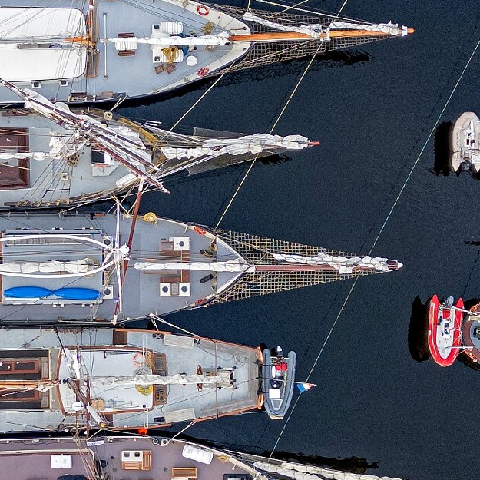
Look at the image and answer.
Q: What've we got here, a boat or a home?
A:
boat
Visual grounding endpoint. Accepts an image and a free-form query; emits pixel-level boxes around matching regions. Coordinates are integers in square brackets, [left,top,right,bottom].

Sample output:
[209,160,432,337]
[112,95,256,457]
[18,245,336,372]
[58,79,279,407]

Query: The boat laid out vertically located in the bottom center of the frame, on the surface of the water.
[262,351,296,418]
